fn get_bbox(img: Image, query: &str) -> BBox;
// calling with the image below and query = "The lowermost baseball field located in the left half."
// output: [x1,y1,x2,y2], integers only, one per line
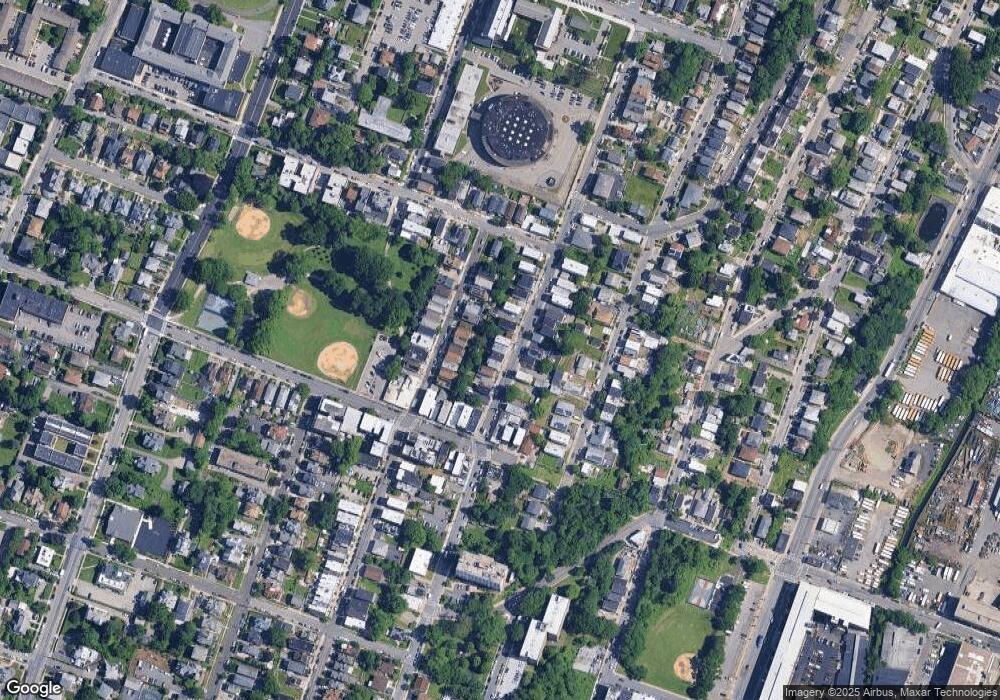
[271,317,370,387]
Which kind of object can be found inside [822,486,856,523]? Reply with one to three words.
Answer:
building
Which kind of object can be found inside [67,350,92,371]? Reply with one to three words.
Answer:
house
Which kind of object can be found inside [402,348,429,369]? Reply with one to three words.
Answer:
house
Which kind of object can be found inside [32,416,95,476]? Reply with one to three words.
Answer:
building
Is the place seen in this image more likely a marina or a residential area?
residential area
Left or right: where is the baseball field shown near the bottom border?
right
